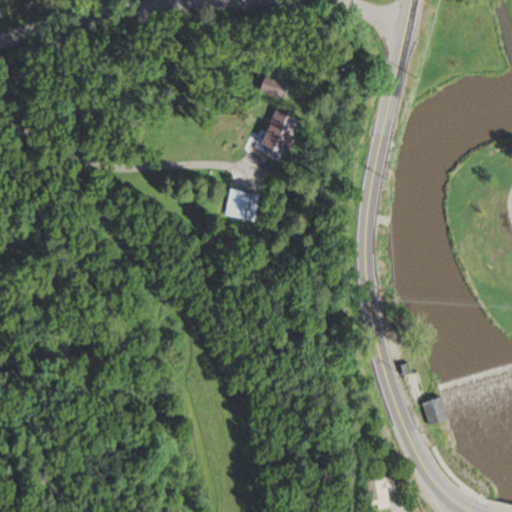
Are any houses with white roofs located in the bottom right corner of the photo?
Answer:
Yes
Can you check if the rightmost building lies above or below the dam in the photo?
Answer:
below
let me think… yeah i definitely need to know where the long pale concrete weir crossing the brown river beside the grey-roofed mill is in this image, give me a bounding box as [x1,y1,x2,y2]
[434,362,512,394]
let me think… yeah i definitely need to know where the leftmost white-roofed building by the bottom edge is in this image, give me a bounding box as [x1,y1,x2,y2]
[373,479,394,511]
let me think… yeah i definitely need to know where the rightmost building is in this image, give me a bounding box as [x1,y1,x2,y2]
[423,398,448,424]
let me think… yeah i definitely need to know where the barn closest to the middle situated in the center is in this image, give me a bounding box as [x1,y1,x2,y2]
[224,188,260,222]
